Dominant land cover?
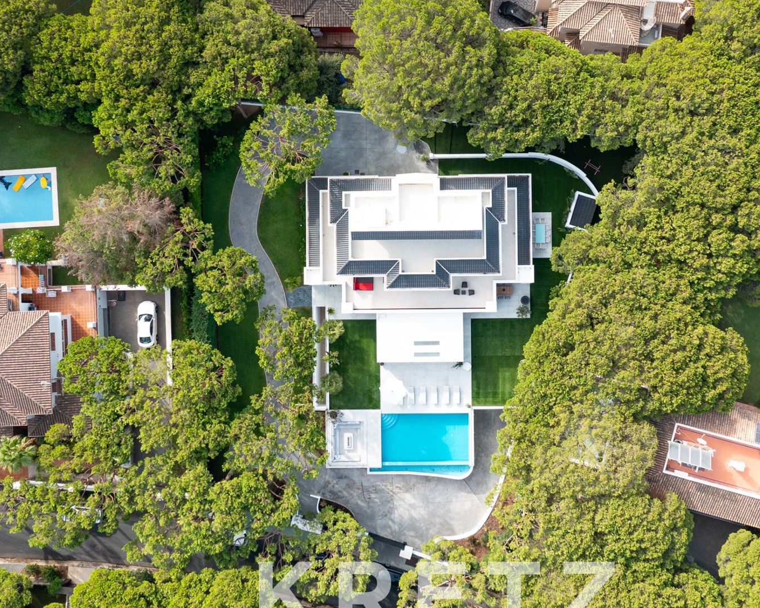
trees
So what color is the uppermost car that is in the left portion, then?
white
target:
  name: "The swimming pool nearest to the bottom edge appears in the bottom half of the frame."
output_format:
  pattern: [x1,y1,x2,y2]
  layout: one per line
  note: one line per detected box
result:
[367,466,474,480]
